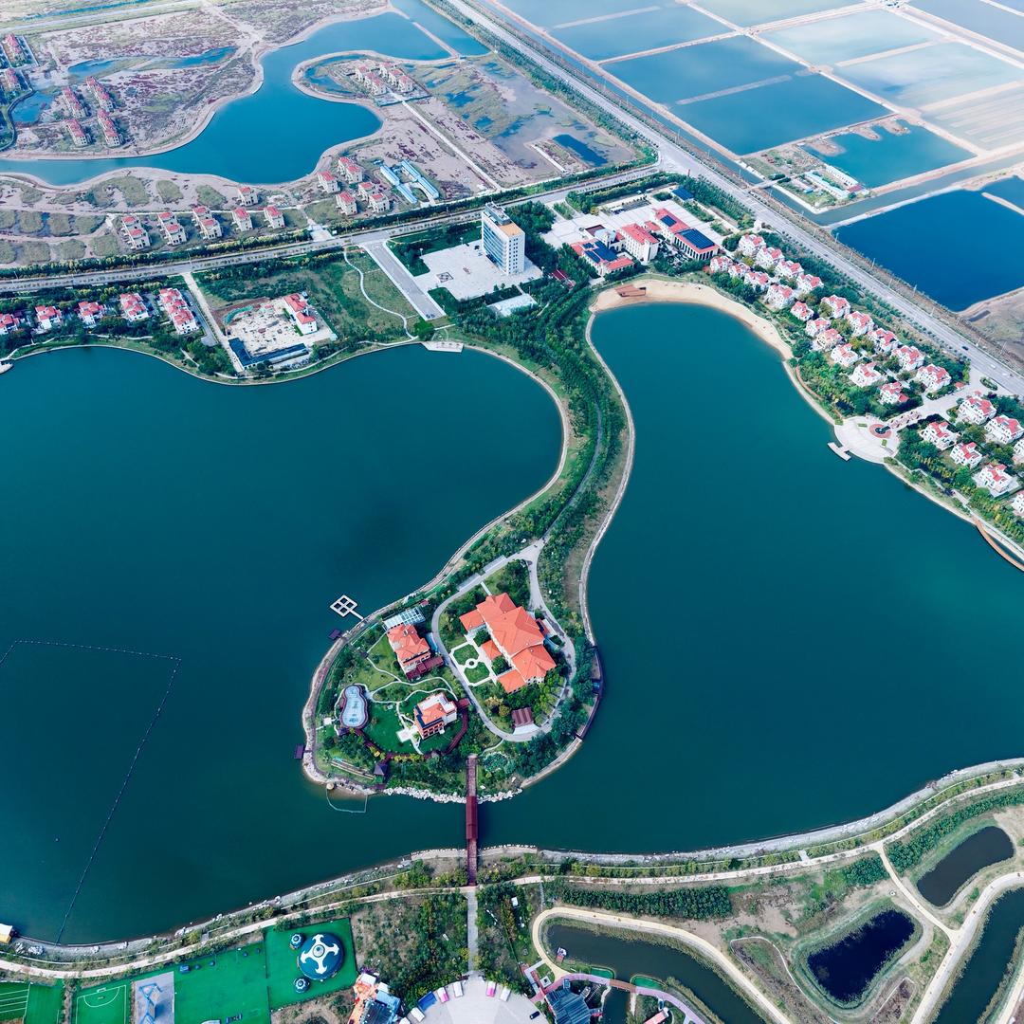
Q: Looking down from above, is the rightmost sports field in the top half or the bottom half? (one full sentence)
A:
It is in the bottom half that the rightmost sports field appears.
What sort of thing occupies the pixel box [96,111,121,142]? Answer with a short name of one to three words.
house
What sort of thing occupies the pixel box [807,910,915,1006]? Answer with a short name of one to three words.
pond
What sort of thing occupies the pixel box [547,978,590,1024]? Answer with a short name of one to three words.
building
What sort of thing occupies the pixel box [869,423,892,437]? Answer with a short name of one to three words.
fountain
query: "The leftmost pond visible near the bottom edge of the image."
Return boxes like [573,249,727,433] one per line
[549,925,767,1024]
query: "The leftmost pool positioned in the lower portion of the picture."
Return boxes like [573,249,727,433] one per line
[340,683,369,728]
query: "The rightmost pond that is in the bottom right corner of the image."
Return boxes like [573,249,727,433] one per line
[918,826,1015,903]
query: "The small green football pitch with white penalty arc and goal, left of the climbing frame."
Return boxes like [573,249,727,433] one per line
[74,973,132,1024]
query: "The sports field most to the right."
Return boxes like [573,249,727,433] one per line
[265,917,358,1009]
